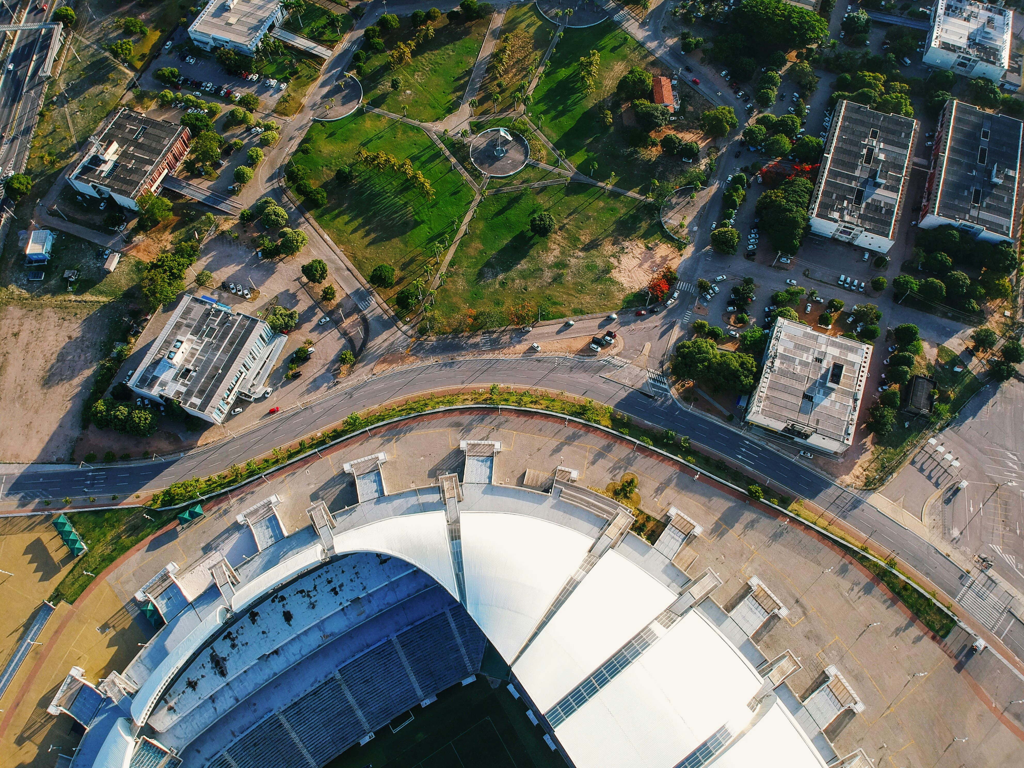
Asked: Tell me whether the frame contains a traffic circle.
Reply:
No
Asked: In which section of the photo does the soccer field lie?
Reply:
bottom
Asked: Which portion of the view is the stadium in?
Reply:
bottom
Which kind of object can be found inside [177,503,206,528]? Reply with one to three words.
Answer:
tent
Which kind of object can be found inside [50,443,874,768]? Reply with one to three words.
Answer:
stadium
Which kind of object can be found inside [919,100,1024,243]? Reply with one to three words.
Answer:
building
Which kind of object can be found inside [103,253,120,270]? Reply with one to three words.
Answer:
vehicle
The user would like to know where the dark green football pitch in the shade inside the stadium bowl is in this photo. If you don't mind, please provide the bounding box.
[317,669,570,768]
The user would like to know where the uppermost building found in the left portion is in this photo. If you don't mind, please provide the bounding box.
[186,0,297,68]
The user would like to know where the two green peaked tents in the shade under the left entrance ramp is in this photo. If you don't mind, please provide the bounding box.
[139,602,164,631]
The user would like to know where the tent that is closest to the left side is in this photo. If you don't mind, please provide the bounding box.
[51,513,93,560]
